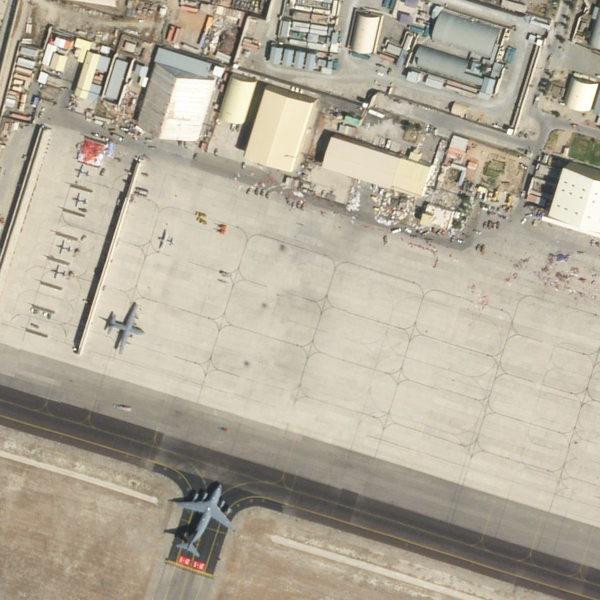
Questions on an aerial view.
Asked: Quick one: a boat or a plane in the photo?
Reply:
plane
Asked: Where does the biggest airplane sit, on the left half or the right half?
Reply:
left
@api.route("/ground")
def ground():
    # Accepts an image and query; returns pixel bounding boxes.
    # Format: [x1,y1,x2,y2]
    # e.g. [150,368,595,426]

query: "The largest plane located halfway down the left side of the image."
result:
[106,305,144,353]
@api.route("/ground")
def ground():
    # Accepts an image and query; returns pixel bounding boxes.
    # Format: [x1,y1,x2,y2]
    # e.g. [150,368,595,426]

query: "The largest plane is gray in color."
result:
[173,487,234,556]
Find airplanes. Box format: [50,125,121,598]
[160,230,174,250]
[106,305,144,353]
[74,194,89,208]
[173,487,234,556]
[57,241,73,255]
[54,266,68,279]
[78,166,92,180]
